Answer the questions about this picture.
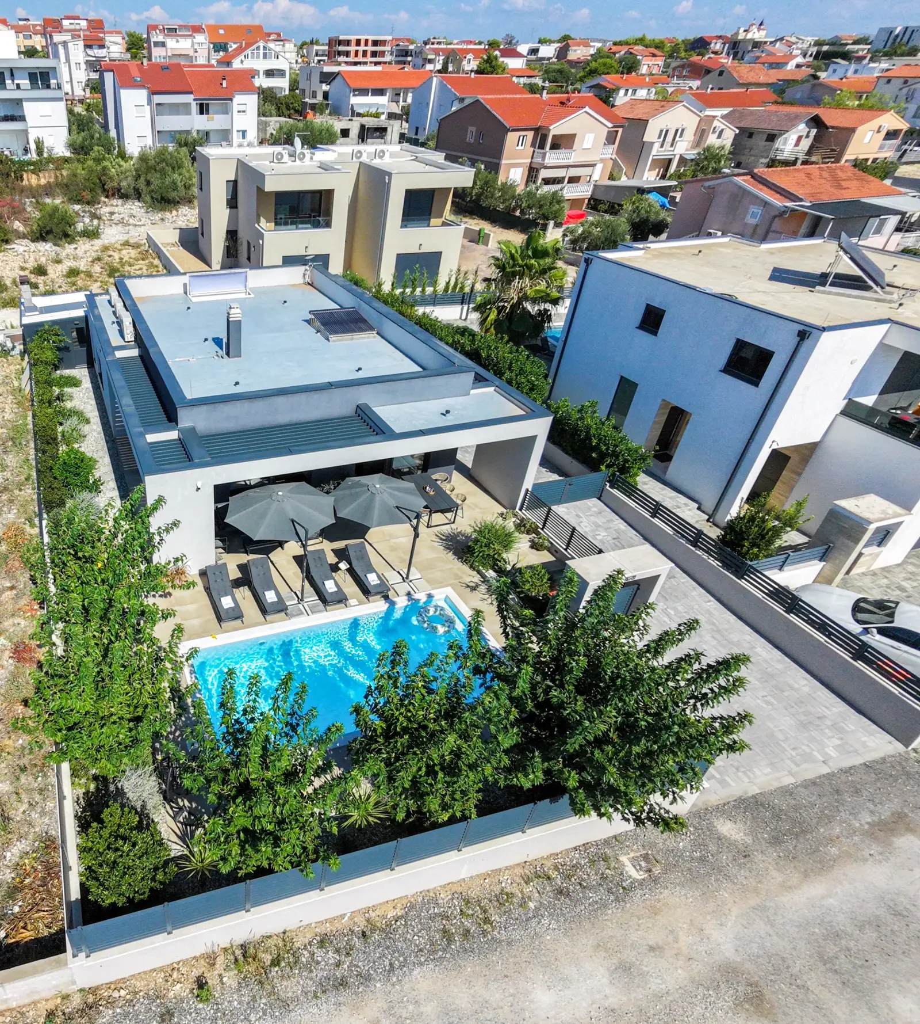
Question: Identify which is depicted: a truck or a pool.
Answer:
pool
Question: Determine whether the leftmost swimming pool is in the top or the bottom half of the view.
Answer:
bottom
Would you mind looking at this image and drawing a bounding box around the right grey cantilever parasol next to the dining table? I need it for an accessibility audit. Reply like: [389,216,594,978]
[325,472,434,593]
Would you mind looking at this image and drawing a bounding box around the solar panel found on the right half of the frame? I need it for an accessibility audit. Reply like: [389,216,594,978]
[812,240,903,302]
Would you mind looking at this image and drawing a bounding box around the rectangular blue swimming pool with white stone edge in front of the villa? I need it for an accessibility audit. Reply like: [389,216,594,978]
[179,587,539,772]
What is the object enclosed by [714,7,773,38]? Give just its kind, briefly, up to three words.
house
